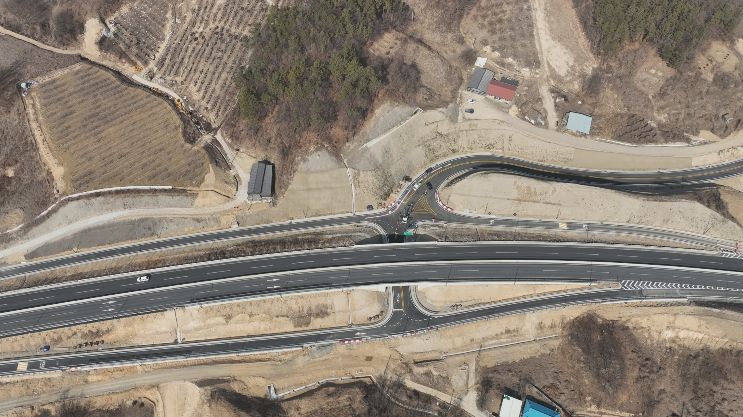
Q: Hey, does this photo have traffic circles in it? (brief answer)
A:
No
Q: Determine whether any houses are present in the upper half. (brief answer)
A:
Yes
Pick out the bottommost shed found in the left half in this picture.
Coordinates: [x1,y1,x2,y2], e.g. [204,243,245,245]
[247,162,274,202]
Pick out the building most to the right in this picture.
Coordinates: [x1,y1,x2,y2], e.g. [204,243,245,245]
[565,112,591,137]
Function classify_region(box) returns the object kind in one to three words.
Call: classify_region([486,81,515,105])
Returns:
house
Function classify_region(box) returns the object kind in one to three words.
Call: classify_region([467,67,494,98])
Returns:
house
